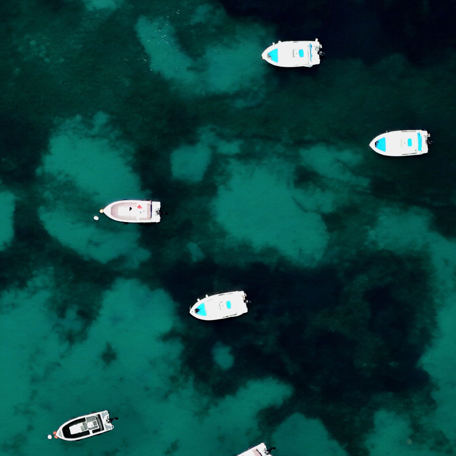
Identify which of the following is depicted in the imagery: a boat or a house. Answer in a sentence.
Of the two, only a boat appears.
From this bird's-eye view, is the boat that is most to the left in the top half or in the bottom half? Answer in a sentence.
The boat that is most to the left sits in the bottom half of the picture.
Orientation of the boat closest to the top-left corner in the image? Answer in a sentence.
I'd say the boat closest to the top-left corner is aligned from side to side in the picture.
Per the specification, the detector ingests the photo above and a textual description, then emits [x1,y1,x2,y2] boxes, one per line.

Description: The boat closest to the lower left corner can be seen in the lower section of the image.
[55,411,117,440]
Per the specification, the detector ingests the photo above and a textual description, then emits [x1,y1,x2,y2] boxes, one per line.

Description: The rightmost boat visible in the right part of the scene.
[369,131,433,156]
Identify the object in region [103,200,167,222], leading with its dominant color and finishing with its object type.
white boat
